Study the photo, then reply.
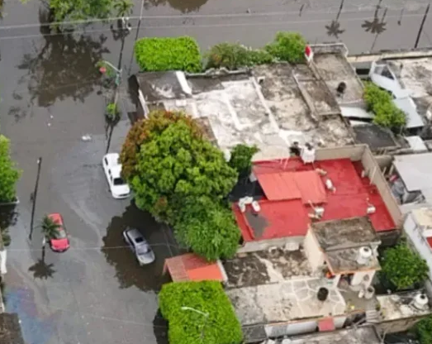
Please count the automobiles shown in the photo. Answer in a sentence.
The count of automobiles comes to 3.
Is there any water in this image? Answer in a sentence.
Yes, some water is visible.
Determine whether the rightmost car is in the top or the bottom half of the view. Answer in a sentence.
You can find the rightmost car in the bottom half.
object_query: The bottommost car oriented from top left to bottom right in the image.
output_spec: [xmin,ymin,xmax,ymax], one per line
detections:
[122,224,156,264]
